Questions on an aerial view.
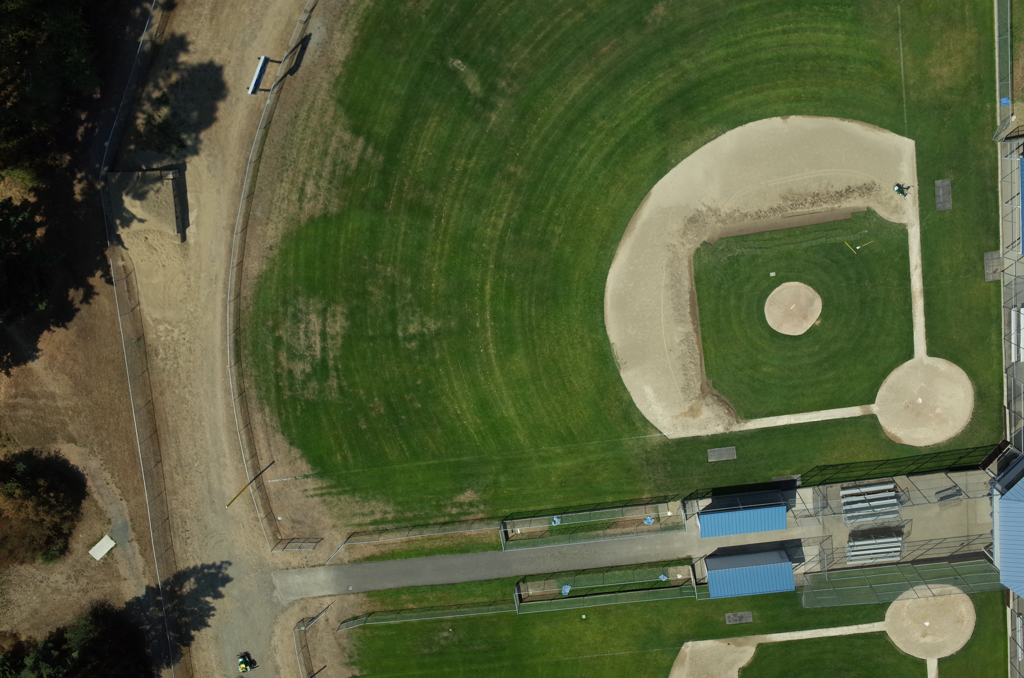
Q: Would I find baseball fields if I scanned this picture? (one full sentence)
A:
Yes, the photo shows a baseball field.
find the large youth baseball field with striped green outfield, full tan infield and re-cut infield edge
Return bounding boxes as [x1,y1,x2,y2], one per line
[237,0,1004,545]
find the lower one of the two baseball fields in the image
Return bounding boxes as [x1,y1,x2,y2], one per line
[300,567,1008,678]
